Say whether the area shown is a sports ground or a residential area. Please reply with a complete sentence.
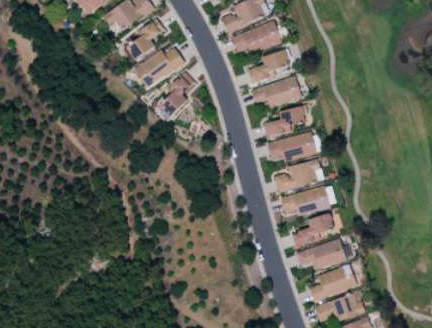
It's a residential area.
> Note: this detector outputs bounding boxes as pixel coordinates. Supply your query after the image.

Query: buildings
[292,212,335,247]
[126,16,166,60]
[267,132,321,160]
[251,76,302,107]
[248,48,290,82]
[231,22,280,54]
[296,239,353,270]
[76,0,104,14]
[264,104,307,138]
[222,0,270,34]
[315,290,364,322]
[310,265,358,302]
[274,160,325,192]
[156,71,196,120]
[105,0,156,34]
[130,46,185,88]
[281,186,336,216]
